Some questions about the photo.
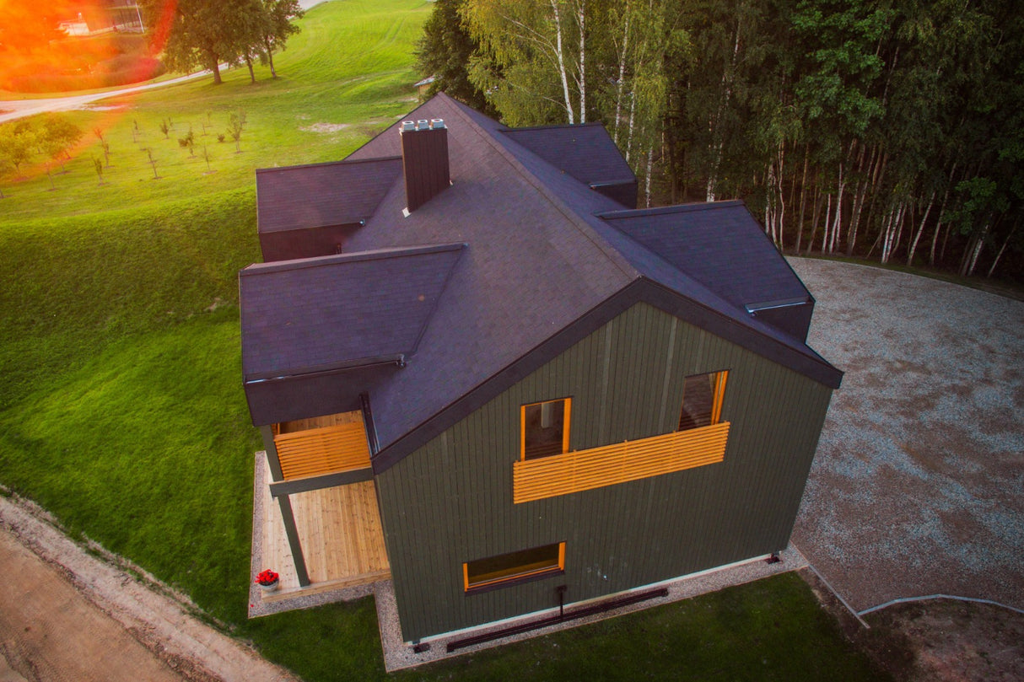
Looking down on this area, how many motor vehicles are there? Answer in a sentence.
There are no motor vehicles in this view.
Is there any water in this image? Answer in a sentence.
No, there is no water in the image.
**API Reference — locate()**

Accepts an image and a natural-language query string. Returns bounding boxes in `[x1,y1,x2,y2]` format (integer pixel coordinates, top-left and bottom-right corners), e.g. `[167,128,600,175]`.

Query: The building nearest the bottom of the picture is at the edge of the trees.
[239,90,847,646]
